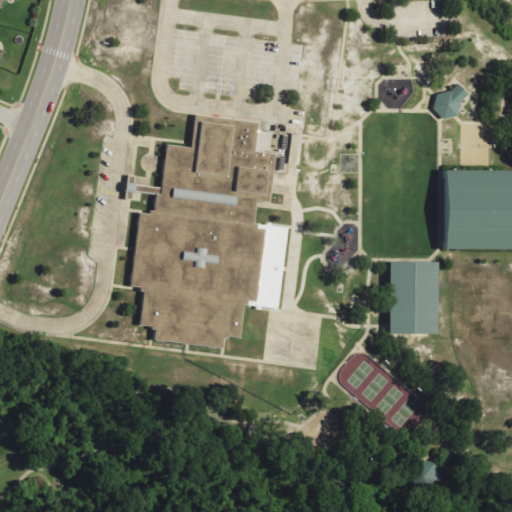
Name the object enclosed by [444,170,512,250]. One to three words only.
building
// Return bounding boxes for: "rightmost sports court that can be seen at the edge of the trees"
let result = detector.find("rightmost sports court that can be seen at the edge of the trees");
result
[460,122,496,166]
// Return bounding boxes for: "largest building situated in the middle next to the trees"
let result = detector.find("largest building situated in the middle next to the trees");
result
[126,115,277,348]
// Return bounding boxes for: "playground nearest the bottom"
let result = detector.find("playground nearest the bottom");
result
[326,224,358,266]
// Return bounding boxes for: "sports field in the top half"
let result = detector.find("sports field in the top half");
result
[364,114,438,258]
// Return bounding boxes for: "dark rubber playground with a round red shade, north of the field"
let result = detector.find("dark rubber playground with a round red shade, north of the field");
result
[378,80,414,108]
